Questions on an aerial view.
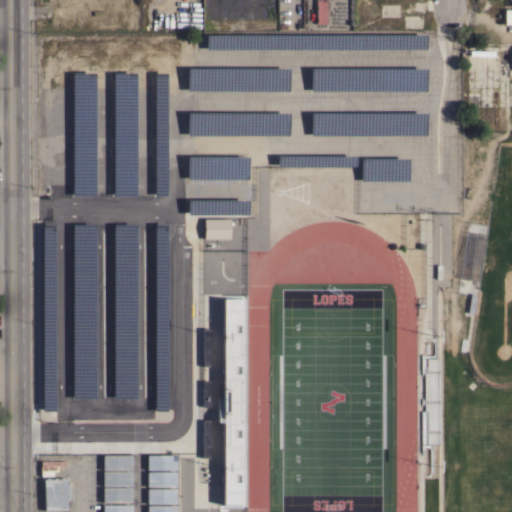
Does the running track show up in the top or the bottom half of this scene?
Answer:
bottom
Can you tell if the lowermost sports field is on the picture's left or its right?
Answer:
right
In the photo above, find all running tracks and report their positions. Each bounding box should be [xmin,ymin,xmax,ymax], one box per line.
[248,222,417,512]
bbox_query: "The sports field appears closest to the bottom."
[270,284,397,512]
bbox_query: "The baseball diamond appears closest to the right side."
[474,146,512,388]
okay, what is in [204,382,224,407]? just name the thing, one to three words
building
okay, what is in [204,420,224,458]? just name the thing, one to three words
building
